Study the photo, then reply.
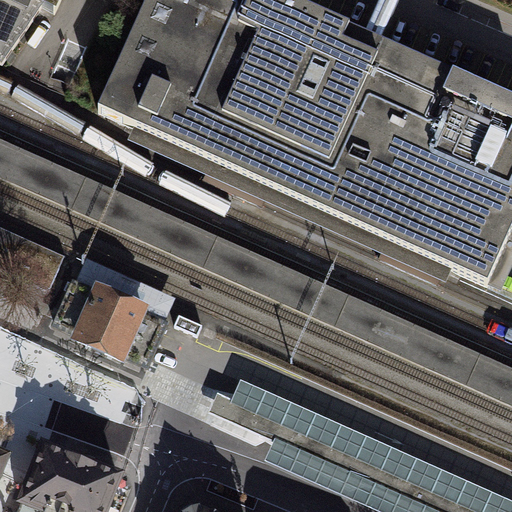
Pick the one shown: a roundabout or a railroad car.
railroad car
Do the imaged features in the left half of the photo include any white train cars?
Yes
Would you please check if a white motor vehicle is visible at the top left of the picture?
Yes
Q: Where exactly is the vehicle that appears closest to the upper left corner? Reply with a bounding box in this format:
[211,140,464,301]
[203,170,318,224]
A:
[28,22,52,50]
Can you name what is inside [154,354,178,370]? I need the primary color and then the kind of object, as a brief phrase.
white car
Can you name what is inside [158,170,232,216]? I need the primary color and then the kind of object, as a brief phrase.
white rail car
